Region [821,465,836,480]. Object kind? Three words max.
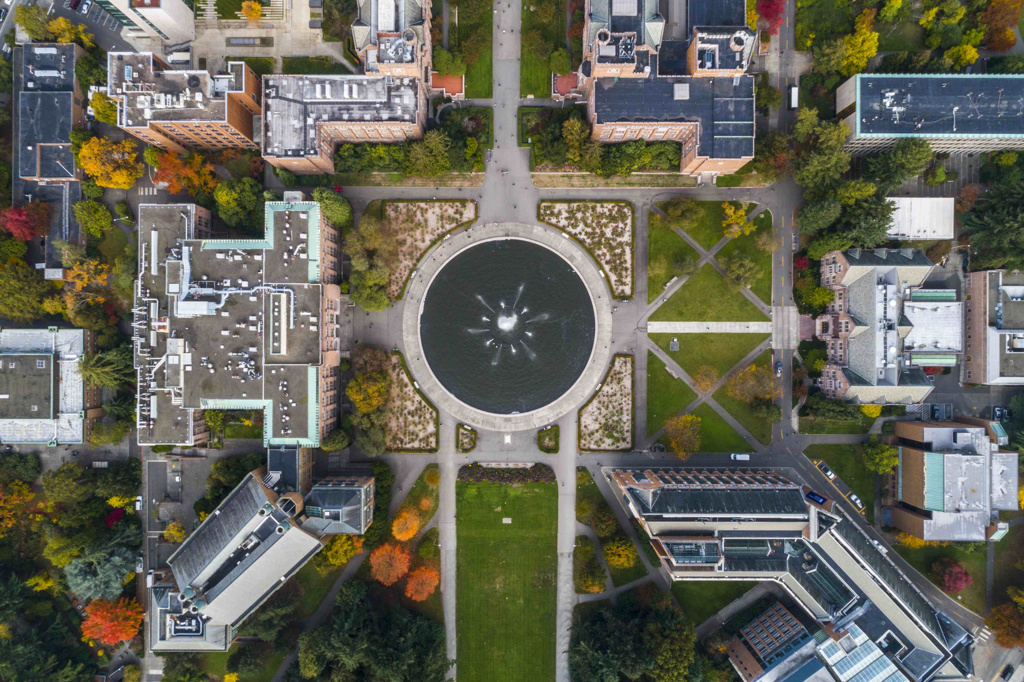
vehicle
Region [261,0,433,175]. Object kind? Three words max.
building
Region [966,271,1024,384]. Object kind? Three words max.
building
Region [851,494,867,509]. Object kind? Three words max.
vehicle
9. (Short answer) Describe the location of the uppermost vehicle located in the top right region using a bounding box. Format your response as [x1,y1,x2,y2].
[789,82,803,110]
